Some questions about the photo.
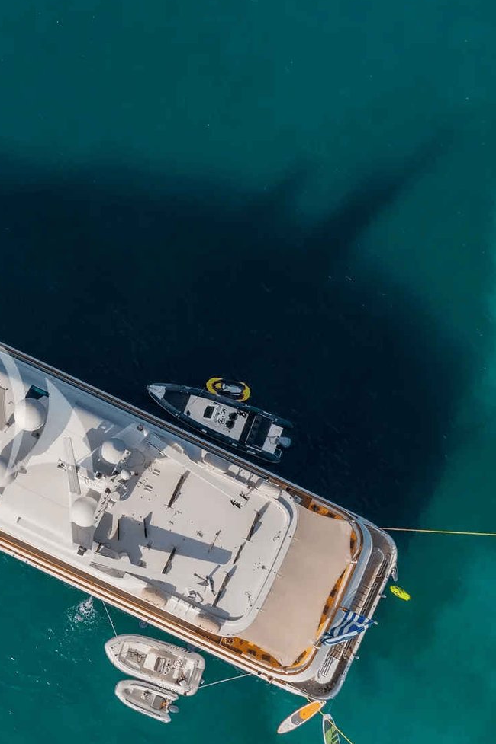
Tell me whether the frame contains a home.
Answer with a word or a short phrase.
No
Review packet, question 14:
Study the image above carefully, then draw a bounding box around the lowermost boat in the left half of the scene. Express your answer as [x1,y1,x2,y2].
[113,682,180,721]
